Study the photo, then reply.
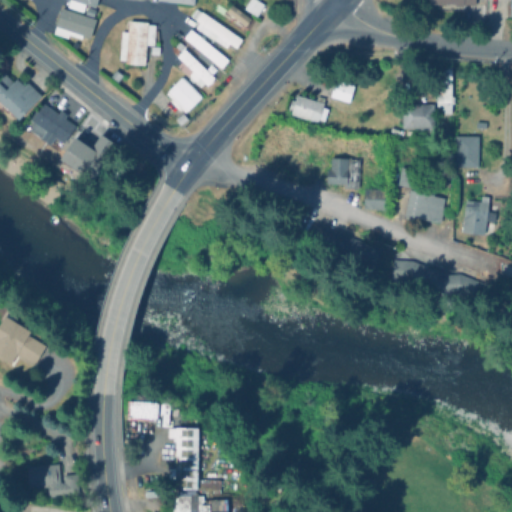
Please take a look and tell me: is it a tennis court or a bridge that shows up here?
bridge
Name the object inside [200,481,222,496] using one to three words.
shed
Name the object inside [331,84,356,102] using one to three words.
building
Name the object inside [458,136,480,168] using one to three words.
house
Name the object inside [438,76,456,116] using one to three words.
shed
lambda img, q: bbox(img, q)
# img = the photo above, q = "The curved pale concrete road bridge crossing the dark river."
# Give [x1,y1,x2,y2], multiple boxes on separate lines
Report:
[92,184,190,394]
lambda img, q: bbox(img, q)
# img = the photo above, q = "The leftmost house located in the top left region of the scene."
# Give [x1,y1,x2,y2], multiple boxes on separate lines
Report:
[0,74,44,120]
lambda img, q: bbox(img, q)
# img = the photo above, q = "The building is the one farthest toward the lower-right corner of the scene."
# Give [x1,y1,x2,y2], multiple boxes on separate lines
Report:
[446,273,482,296]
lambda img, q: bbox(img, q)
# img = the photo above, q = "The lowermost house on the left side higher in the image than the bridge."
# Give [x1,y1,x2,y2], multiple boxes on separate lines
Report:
[61,136,113,170]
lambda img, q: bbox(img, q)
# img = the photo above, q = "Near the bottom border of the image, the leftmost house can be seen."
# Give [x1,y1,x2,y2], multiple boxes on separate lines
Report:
[45,464,80,498]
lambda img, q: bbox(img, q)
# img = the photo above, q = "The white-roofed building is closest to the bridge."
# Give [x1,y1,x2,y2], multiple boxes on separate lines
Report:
[130,402,158,420]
